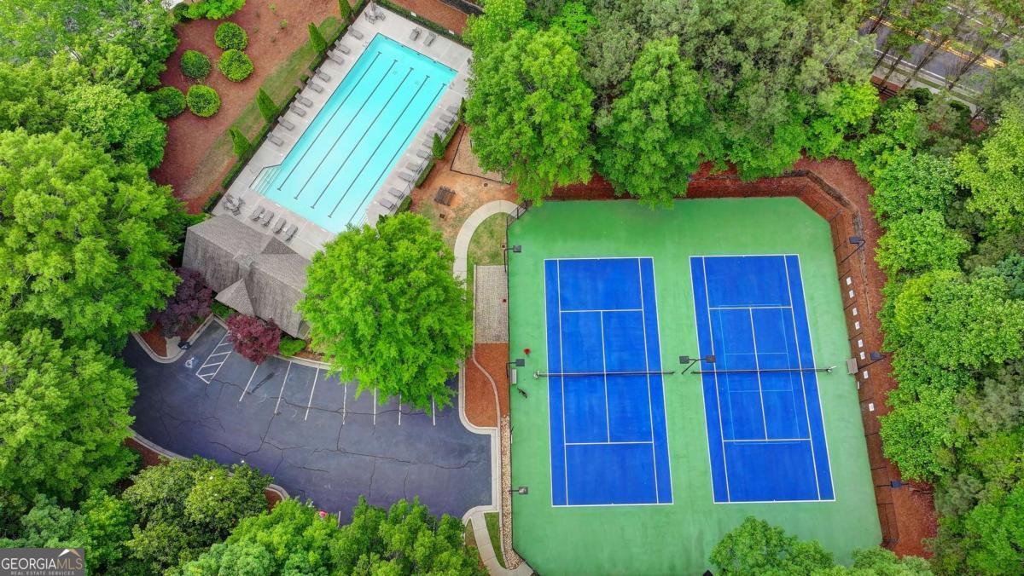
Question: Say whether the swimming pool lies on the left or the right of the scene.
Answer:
left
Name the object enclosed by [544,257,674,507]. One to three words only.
tennis court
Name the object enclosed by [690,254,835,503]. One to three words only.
tennis court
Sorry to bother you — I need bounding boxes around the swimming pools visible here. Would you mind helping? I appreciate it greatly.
[244,29,462,249]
